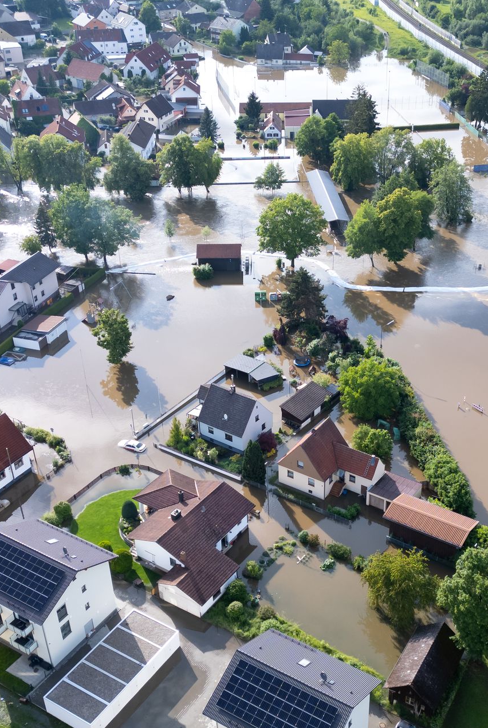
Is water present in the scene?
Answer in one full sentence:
Yes, some water is visible.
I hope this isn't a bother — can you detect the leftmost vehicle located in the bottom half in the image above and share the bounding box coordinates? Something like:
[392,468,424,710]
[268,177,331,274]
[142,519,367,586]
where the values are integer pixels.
[119,441,147,454]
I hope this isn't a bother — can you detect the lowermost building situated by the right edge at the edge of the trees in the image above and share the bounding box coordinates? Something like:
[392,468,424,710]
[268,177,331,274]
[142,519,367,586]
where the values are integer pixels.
[384,623,466,723]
